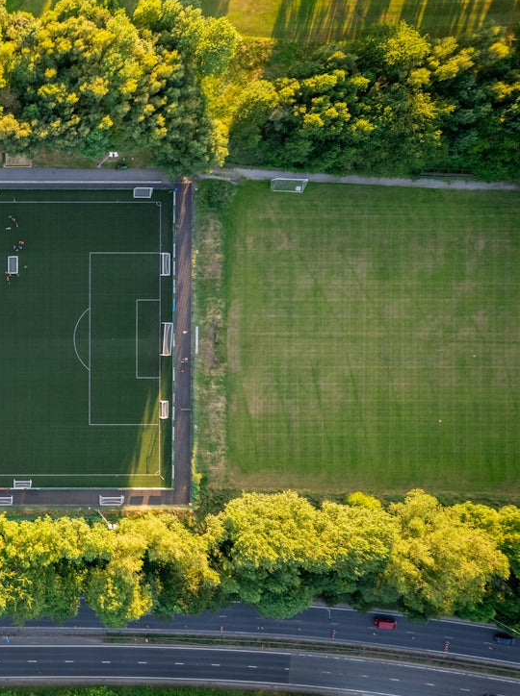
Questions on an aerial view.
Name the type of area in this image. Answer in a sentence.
What you see here is a sports ground.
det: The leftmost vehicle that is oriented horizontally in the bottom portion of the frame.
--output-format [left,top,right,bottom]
[376,619,397,632]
